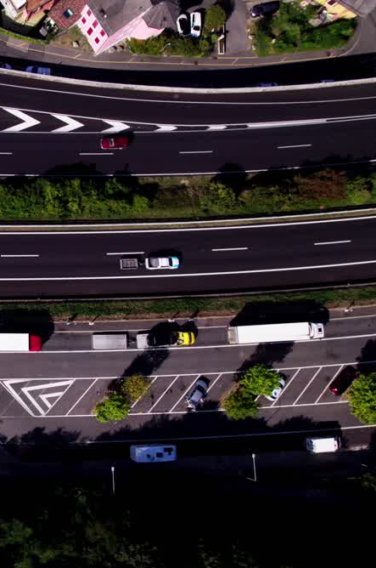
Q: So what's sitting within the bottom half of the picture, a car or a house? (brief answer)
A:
car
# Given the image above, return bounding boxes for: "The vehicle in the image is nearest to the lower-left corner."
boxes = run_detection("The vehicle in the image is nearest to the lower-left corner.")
[126,444,175,462]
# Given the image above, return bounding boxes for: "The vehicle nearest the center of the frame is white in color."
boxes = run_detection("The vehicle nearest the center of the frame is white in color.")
[146,256,178,270]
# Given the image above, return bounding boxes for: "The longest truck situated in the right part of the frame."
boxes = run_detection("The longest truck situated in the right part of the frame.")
[224,322,320,344]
